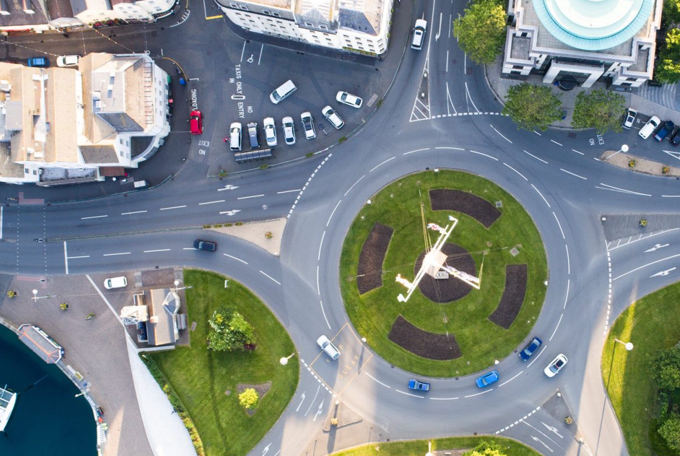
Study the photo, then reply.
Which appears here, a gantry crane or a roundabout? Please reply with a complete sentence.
The image shows a roundabout.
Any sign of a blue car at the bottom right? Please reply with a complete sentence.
Yes, a blue car can be seen at the bottom right.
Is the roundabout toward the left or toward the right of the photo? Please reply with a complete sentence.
You can find the roundabout on the right side of the picture.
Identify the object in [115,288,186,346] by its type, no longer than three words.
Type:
house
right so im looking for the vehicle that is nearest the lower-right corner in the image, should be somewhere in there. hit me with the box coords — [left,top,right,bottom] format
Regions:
[545,354,566,378]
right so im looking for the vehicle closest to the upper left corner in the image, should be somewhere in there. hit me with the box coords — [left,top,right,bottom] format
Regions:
[26,55,50,68]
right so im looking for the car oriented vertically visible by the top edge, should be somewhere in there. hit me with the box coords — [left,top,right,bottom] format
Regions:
[413,20,427,49]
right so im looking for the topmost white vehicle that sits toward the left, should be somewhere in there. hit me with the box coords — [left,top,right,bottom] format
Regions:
[55,54,81,67]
